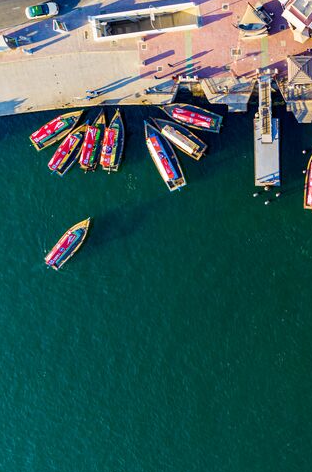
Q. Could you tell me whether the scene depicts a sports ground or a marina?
marina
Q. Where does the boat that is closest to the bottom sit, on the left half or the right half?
left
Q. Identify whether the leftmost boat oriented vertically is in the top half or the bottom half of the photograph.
top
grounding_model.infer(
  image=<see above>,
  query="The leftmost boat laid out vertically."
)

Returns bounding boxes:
[81,102,108,171]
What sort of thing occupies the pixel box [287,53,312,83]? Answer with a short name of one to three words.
building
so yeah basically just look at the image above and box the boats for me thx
[48,104,91,177]
[141,105,186,192]
[102,102,125,171]
[45,216,92,270]
[30,104,86,150]
[81,102,108,171]
[148,105,208,159]
[154,101,224,131]
[306,156,312,210]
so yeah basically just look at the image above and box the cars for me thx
[25,2,59,20]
